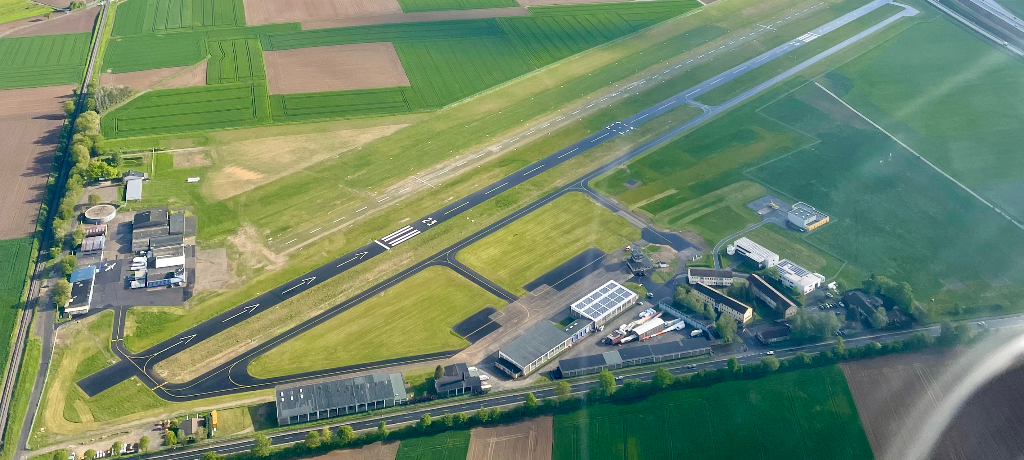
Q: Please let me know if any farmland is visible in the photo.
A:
Yes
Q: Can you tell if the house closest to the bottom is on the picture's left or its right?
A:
left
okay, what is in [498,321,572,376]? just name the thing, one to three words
hangar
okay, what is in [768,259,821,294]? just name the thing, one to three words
building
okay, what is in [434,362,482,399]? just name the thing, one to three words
building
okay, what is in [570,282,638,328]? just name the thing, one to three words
hangar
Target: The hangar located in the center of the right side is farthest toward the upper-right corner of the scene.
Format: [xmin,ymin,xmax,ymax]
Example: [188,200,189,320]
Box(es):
[787,203,830,231]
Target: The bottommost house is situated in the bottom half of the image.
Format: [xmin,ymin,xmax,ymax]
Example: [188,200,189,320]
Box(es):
[181,416,205,441]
